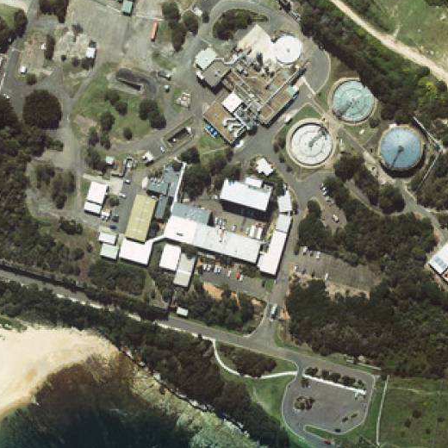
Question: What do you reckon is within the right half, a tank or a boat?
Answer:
tank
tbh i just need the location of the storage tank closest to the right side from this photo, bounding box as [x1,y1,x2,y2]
[379,127,424,172]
